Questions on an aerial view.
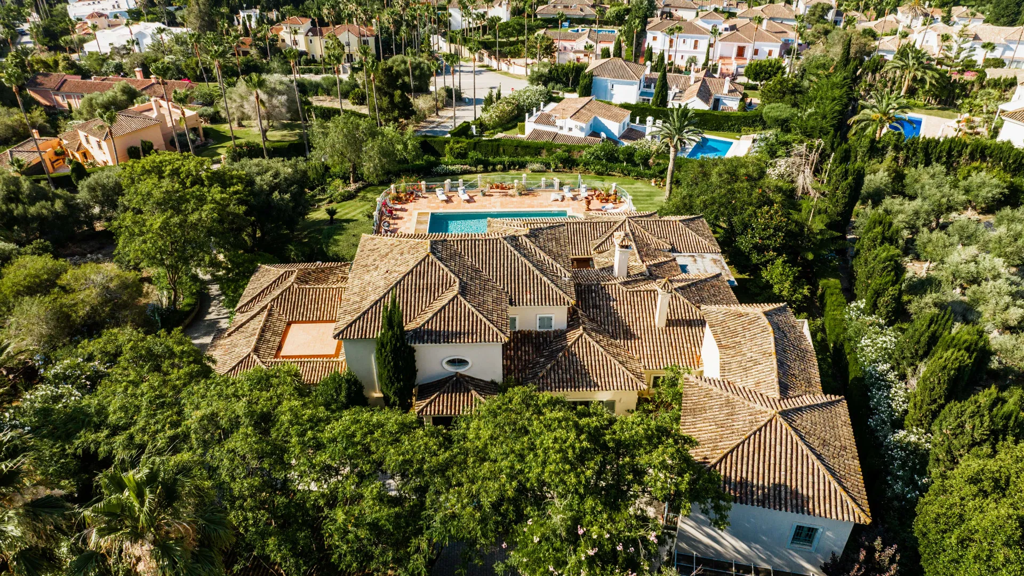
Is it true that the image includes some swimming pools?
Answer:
Yes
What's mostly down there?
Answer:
trees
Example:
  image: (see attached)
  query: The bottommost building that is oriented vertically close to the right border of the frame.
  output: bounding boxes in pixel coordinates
[991,81,1024,153]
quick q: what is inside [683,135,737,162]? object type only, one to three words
swimming pool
